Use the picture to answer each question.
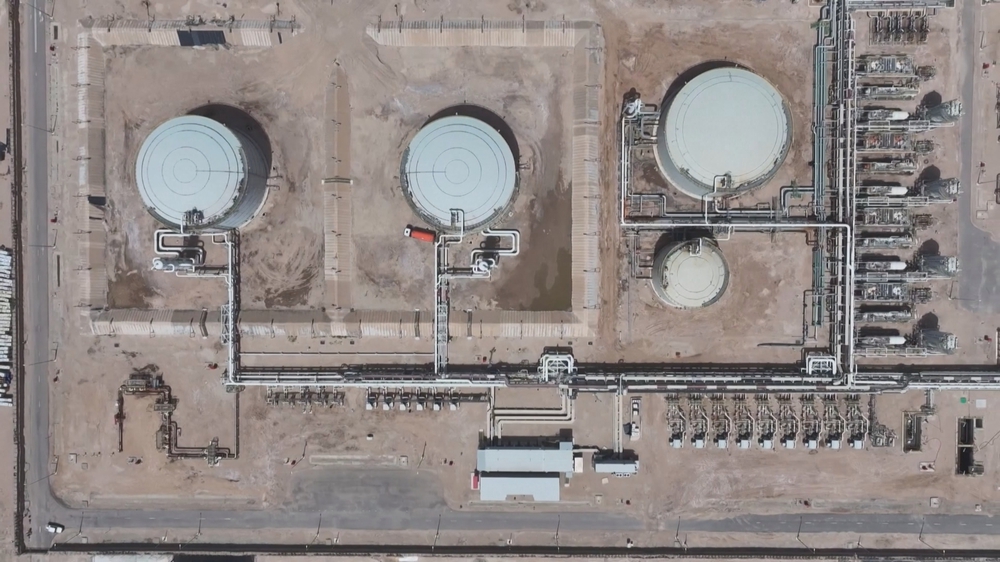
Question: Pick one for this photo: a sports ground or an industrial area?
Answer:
industrial area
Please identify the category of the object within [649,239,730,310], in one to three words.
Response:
storage tank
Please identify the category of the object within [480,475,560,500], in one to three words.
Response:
building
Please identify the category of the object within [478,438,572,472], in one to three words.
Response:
building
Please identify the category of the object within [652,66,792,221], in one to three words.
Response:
storage tank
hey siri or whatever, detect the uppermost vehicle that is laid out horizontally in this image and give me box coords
[403,227,436,241]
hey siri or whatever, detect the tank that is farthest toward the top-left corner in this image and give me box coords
[134,114,271,235]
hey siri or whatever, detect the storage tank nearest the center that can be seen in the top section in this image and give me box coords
[398,114,521,238]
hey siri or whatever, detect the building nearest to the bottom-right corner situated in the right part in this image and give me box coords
[594,456,636,473]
